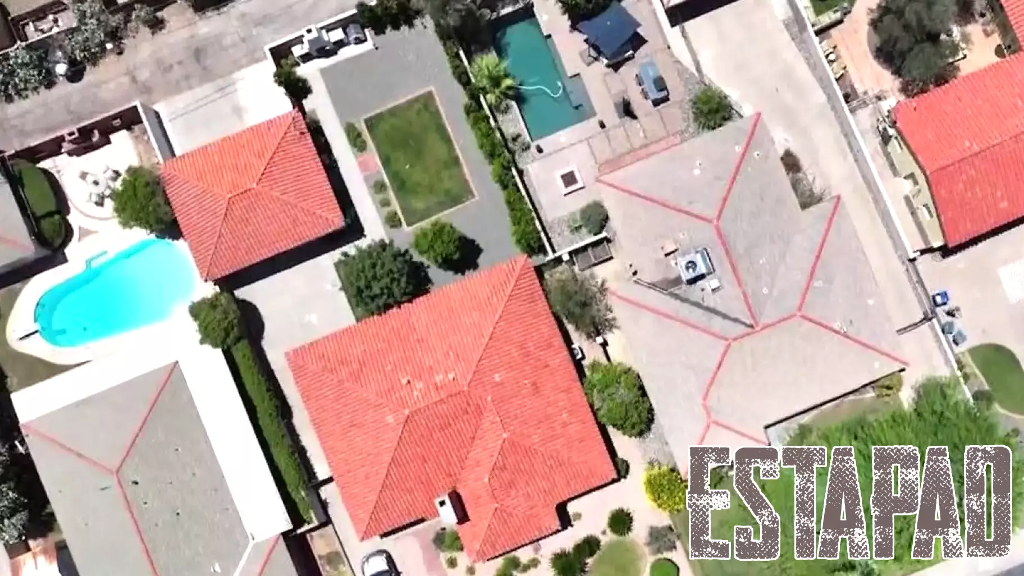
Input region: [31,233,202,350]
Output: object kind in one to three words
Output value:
swimming pool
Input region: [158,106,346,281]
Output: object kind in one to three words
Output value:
building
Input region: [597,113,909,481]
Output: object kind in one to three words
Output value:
house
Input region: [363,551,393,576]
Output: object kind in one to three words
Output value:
car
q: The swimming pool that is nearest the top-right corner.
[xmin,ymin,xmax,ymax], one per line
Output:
[491,9,599,143]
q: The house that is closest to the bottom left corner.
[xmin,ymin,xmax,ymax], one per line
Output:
[8,323,304,576]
